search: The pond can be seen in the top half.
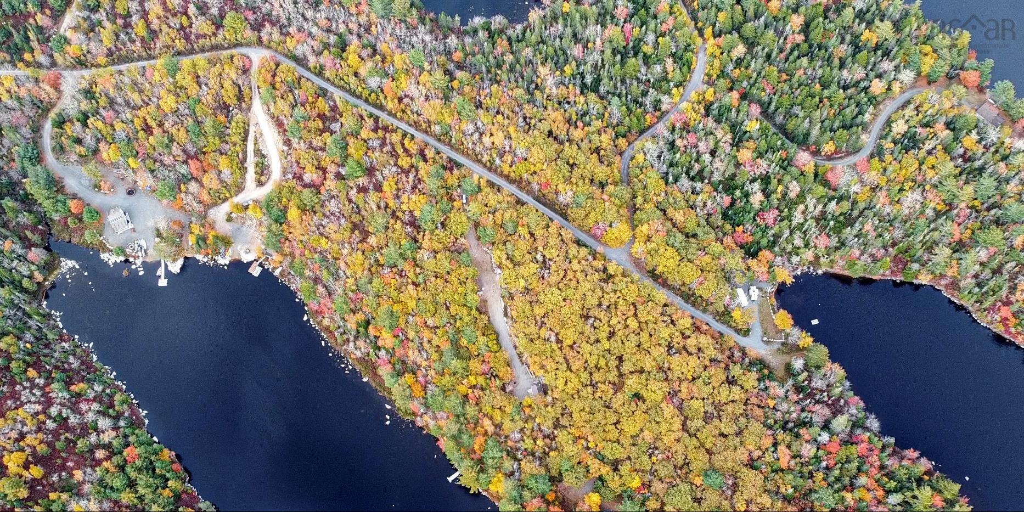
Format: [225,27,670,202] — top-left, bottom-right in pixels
[420,0,549,35]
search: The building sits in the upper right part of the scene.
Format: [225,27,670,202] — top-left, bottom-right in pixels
[976,102,1005,128]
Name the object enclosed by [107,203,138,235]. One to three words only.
house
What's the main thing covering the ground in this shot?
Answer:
trees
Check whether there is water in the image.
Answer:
Yes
